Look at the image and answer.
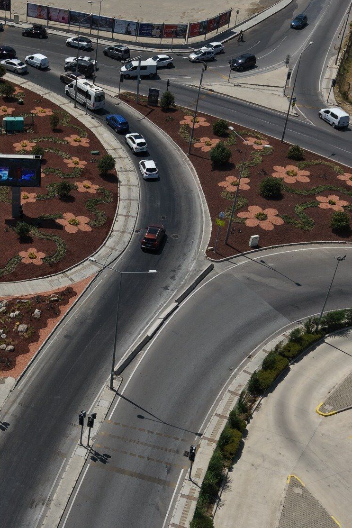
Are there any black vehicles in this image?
Yes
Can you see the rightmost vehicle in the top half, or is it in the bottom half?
top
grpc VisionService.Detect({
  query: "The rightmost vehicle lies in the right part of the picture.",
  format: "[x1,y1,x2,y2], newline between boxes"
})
[316,109,352,130]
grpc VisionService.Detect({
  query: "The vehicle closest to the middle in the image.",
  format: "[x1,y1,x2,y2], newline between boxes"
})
[137,227,167,256]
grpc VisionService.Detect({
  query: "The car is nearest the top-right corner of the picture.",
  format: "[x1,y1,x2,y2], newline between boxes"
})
[290,14,307,30]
